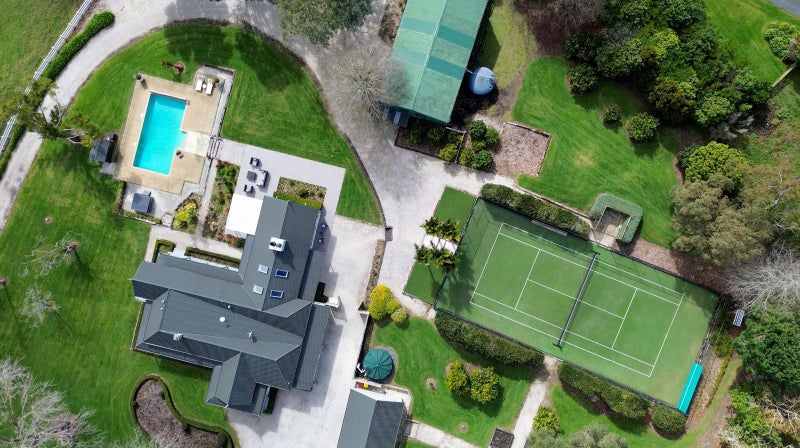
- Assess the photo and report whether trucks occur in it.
No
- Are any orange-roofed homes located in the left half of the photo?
No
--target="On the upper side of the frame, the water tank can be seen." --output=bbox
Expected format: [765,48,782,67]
[467,69,495,99]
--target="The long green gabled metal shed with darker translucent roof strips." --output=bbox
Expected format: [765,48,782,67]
[382,0,491,125]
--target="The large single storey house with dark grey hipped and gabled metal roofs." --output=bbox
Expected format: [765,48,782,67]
[132,195,332,414]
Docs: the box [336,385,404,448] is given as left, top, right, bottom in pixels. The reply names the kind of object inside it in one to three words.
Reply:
building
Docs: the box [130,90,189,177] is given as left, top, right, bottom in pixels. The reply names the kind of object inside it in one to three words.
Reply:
swimming pool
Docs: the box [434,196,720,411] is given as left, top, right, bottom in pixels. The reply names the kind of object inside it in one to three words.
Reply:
tennis court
